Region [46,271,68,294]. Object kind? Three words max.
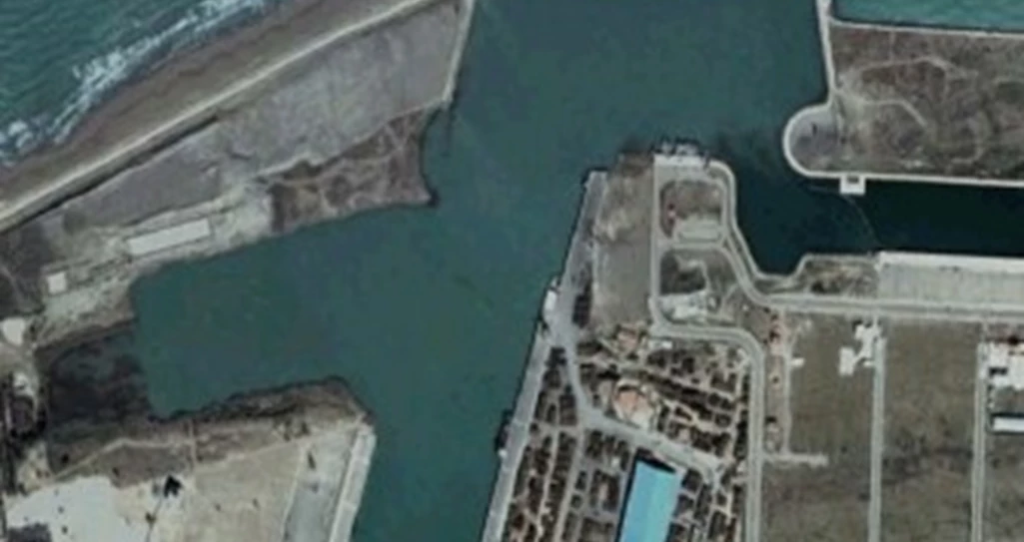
building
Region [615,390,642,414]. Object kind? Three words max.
house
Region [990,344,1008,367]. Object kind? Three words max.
building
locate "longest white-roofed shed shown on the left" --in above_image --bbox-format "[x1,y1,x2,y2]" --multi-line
[127,219,211,257]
